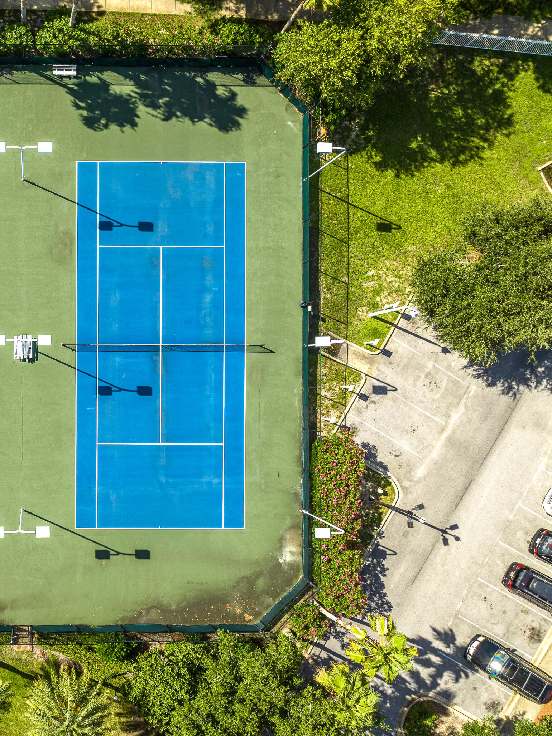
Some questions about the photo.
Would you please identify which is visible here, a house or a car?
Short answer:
car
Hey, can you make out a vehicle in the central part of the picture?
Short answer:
No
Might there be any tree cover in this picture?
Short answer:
Yes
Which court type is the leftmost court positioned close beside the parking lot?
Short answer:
tennis court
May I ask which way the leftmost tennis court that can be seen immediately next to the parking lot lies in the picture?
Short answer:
from top to bottom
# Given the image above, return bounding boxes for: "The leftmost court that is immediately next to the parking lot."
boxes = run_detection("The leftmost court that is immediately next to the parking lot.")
[76,160,247,529]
